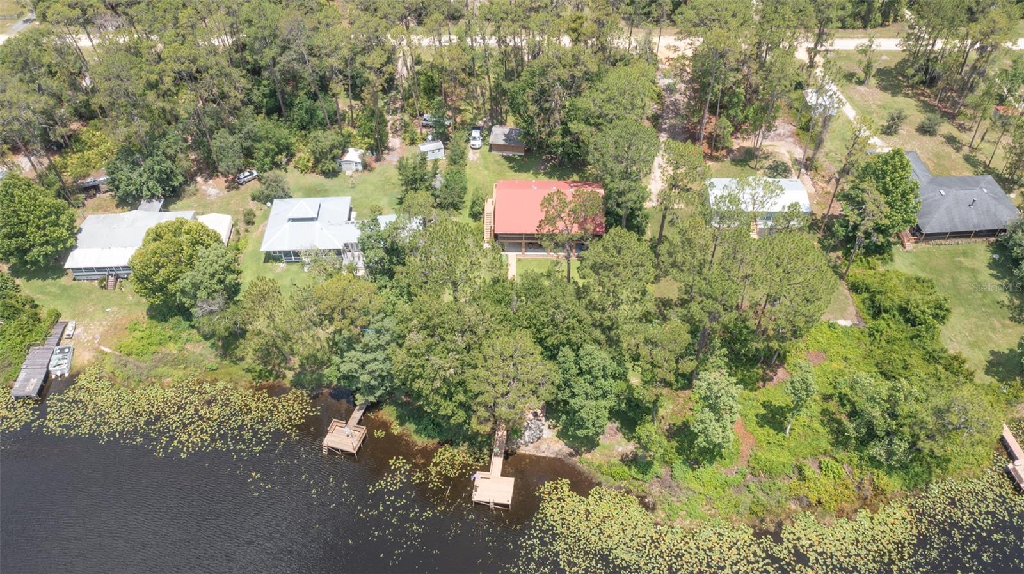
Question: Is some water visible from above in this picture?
Yes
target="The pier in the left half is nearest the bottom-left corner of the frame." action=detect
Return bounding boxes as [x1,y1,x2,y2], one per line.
[11,322,66,406]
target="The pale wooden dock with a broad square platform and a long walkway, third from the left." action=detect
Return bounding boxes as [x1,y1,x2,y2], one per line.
[473,425,514,513]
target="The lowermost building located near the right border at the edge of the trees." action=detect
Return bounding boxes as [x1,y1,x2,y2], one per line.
[861,151,1024,254]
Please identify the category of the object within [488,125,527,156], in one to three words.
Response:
shed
